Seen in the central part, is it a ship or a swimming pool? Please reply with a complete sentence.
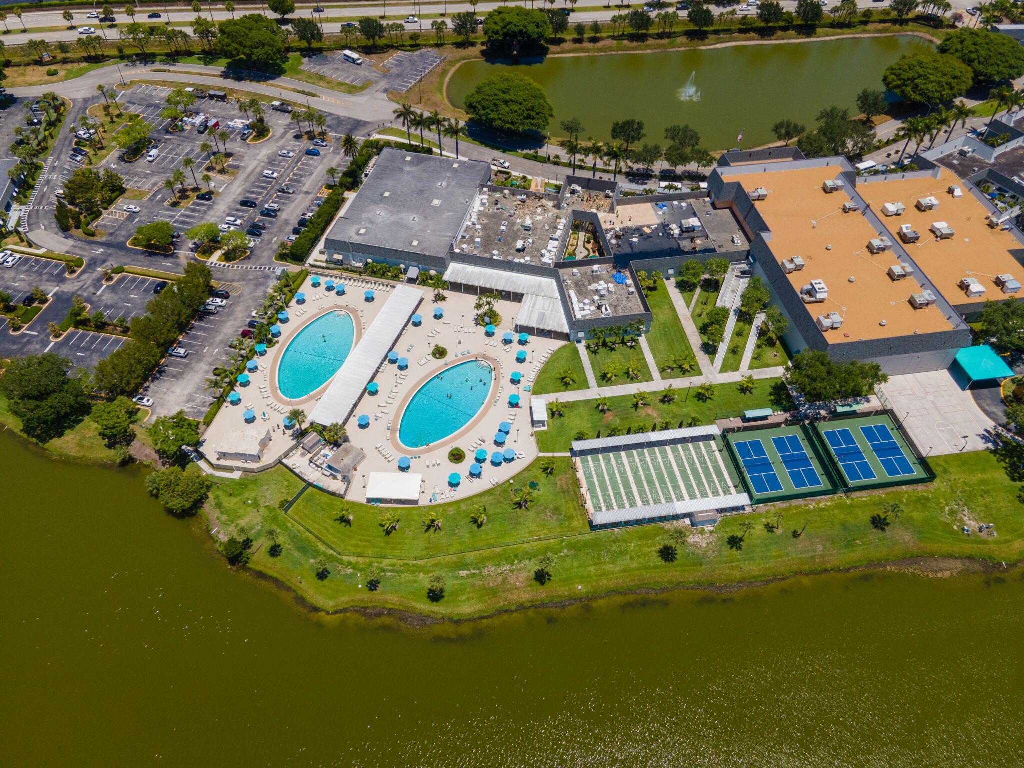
What appears in the central part is a swimming pool.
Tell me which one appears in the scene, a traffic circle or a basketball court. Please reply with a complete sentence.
It is a basketball court that can be seen here.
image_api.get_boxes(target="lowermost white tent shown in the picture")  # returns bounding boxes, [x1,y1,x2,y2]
[366,473,423,508]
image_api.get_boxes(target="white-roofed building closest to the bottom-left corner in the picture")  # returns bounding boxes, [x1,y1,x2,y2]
[216,428,270,461]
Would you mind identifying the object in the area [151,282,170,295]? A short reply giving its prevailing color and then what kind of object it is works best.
black vehicle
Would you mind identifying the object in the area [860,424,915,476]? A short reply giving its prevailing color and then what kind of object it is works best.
blue sports court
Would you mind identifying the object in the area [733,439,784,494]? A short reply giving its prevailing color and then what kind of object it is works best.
blue sports court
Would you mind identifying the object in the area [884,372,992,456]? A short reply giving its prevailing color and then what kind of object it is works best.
white basketball court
